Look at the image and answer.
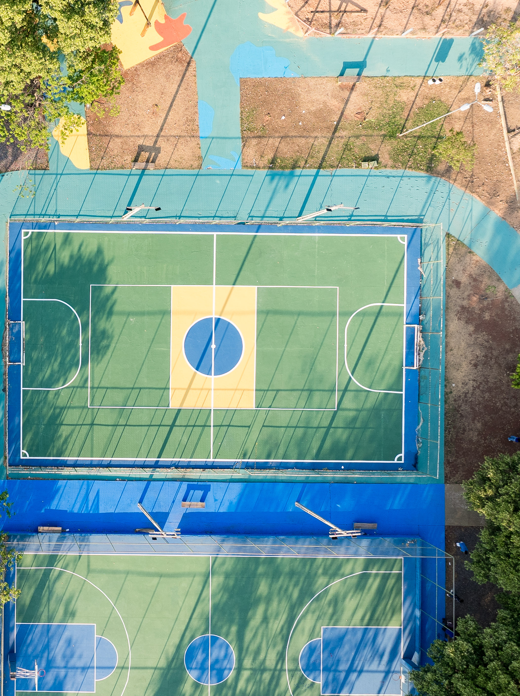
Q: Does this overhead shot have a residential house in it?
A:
No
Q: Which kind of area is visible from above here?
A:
sports ground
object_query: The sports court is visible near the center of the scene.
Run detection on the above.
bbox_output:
[9,223,421,471]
